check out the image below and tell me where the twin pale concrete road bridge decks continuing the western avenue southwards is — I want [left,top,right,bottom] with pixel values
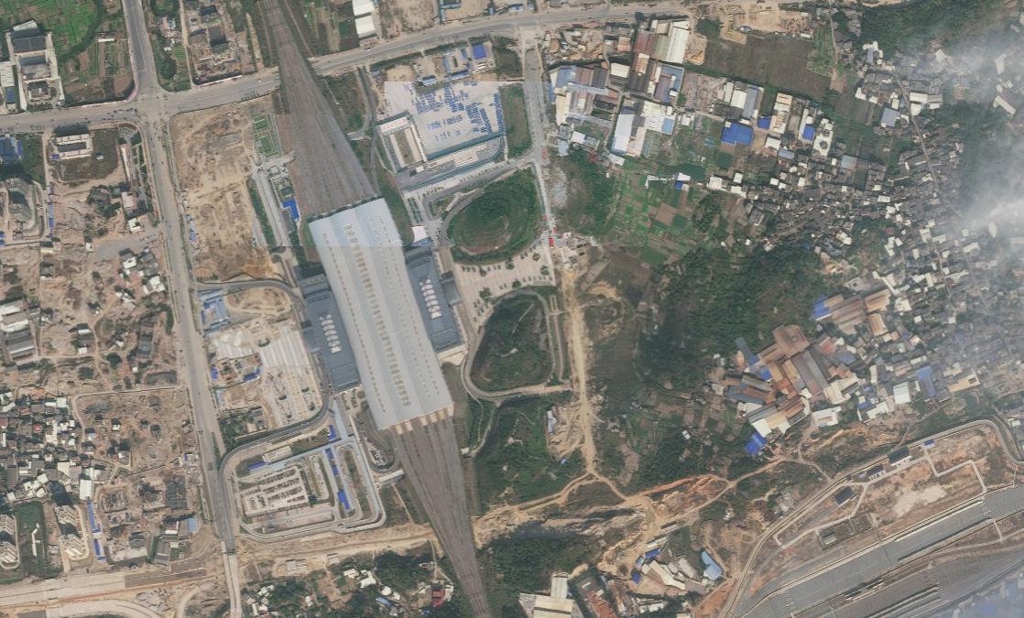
[222,545,243,618]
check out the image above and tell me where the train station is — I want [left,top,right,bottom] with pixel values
[299,199,467,444]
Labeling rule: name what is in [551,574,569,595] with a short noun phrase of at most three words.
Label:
house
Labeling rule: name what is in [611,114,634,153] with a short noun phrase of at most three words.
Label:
building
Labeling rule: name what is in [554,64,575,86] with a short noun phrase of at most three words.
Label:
building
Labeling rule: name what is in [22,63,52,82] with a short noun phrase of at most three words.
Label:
house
